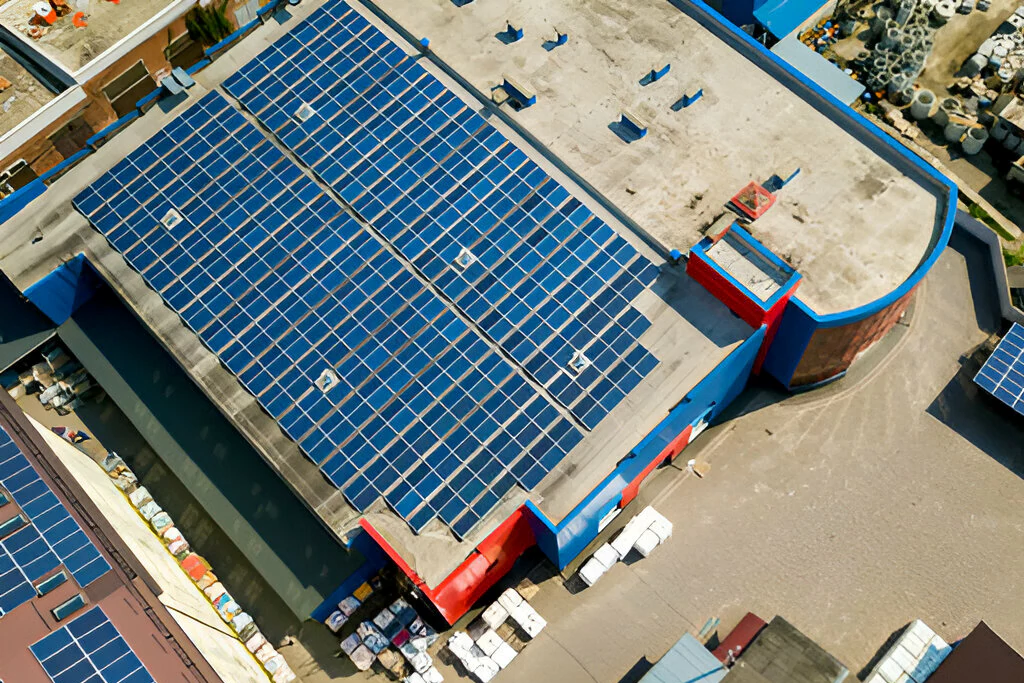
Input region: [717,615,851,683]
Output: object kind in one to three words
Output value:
shed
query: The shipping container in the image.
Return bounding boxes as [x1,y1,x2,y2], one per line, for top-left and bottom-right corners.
[711,612,768,667]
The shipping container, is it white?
No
